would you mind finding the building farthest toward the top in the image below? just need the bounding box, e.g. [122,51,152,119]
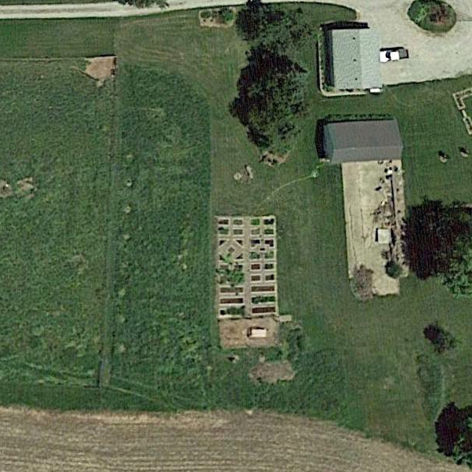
[325,29,381,90]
